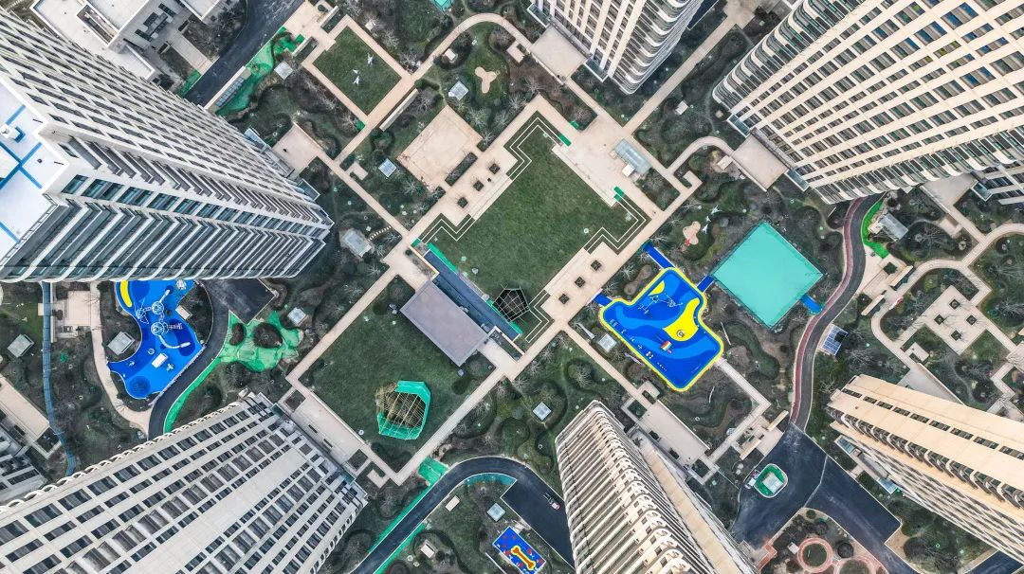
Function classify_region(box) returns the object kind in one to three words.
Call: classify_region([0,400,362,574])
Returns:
building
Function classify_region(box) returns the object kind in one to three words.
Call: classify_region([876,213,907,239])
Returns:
shed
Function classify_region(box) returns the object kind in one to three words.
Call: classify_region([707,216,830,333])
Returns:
sports court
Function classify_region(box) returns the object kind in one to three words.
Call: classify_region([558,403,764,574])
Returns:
building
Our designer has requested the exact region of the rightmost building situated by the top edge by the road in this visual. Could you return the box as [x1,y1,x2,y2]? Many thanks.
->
[719,0,1024,199]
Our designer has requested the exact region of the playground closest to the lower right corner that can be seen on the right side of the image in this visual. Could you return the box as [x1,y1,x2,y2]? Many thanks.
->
[601,268,723,390]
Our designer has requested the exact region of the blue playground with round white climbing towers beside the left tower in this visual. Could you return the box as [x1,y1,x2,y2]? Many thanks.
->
[107,272,204,399]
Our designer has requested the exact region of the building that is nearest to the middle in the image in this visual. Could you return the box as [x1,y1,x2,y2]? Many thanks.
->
[400,279,488,367]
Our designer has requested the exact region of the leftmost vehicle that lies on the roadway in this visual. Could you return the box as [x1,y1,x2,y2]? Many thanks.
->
[540,490,560,509]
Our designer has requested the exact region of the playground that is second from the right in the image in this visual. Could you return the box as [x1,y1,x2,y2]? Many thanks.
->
[492,526,546,574]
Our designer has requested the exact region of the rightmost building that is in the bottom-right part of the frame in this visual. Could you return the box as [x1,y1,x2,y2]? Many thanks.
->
[825,374,1024,563]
